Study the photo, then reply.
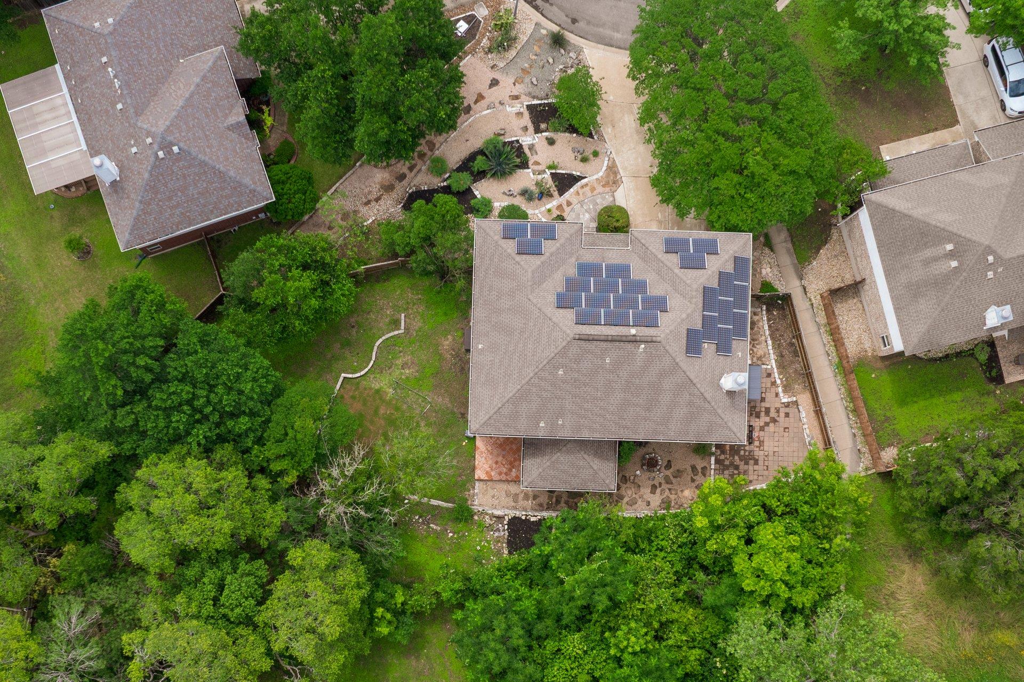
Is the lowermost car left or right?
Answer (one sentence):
You can find the lowermost car on the right side of the picture.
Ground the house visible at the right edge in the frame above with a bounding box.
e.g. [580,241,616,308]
[842,115,1024,356]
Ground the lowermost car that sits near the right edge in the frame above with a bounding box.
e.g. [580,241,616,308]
[983,35,1024,117]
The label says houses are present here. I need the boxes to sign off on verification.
[40,0,277,260]
[467,216,754,493]
[842,115,1024,356]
